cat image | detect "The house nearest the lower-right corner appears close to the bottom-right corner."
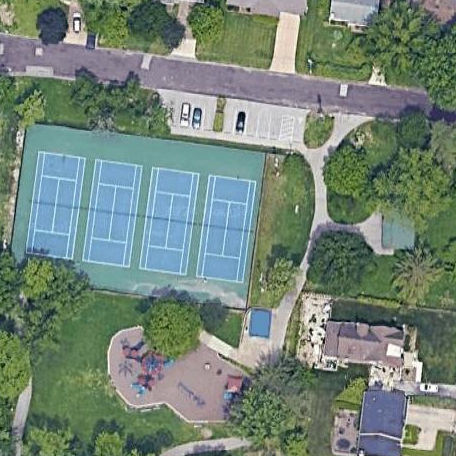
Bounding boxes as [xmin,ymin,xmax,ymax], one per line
[357,391,405,456]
